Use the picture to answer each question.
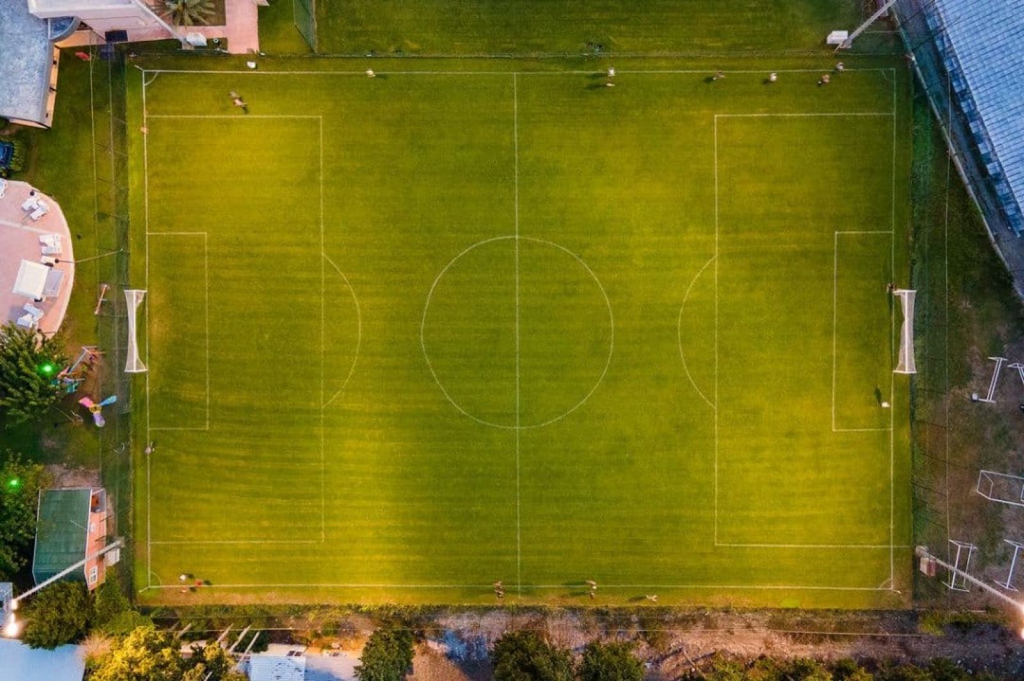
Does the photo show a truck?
No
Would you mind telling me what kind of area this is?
sports ground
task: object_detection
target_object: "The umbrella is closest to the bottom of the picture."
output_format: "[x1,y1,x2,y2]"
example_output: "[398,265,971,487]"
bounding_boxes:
[14,260,49,299]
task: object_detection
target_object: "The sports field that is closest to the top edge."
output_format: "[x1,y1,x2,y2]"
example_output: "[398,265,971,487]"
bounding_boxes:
[316,0,891,53]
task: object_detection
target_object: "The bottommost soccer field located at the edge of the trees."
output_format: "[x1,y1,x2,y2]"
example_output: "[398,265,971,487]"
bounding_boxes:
[129,56,912,606]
